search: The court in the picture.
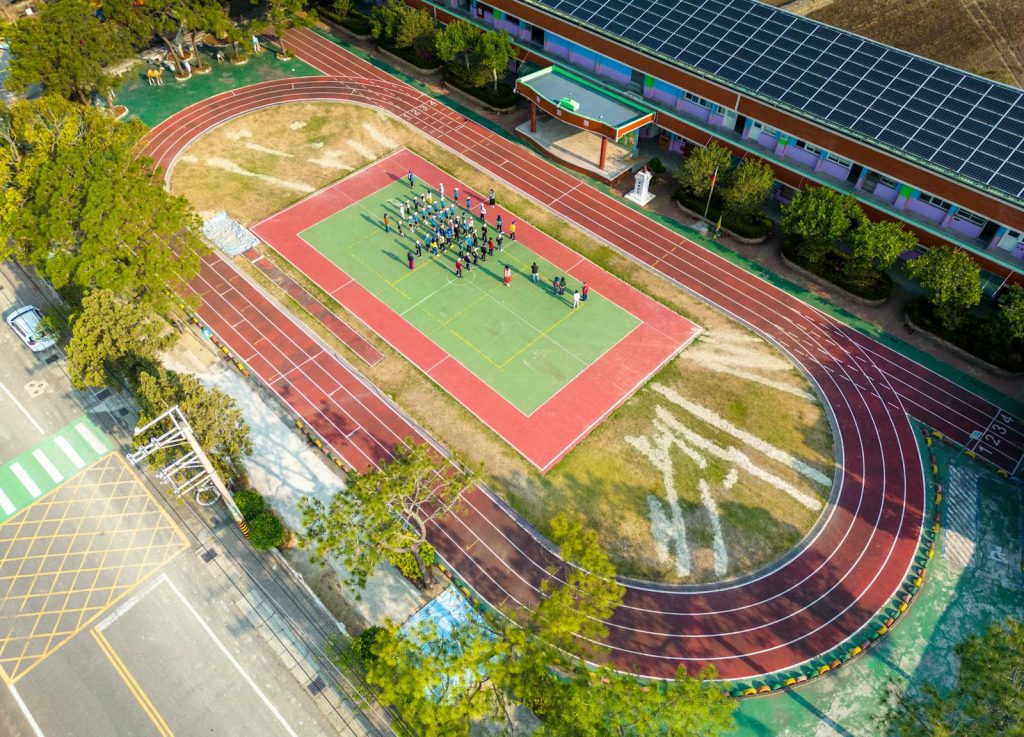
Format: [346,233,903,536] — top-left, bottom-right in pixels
[249,147,705,473]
